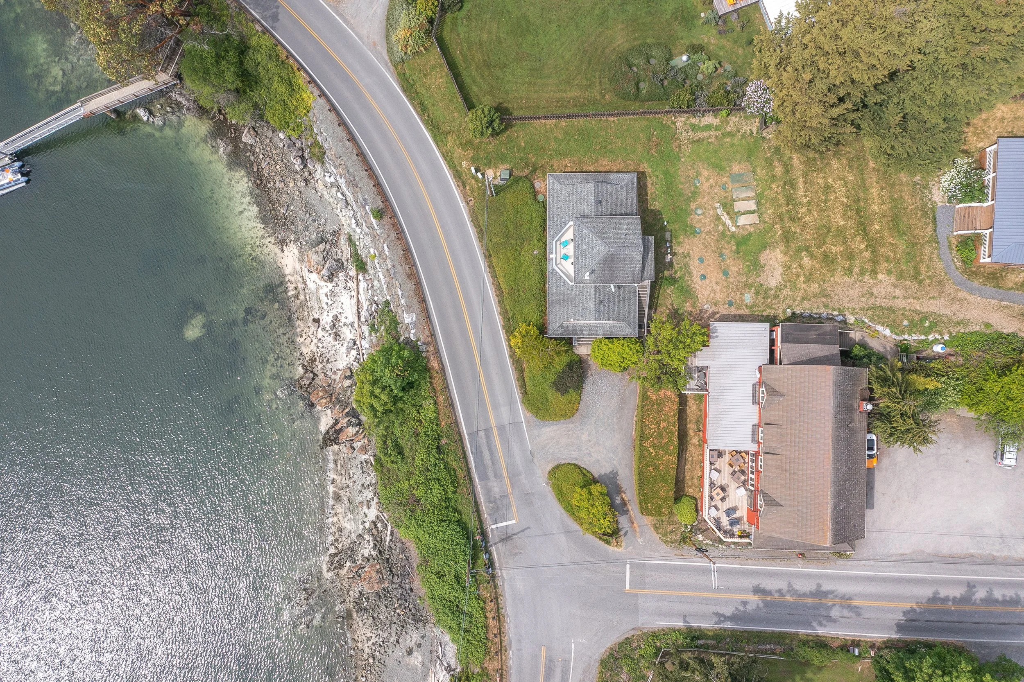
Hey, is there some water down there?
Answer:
Yes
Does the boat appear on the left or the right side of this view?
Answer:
left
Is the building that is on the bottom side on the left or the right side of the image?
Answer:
right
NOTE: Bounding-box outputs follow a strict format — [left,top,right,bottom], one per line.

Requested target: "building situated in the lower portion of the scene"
[683,322,875,554]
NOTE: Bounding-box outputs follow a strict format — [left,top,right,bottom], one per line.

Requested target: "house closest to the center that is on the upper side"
[546,172,654,351]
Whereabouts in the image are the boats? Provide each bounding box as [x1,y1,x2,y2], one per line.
[0,165,27,189]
